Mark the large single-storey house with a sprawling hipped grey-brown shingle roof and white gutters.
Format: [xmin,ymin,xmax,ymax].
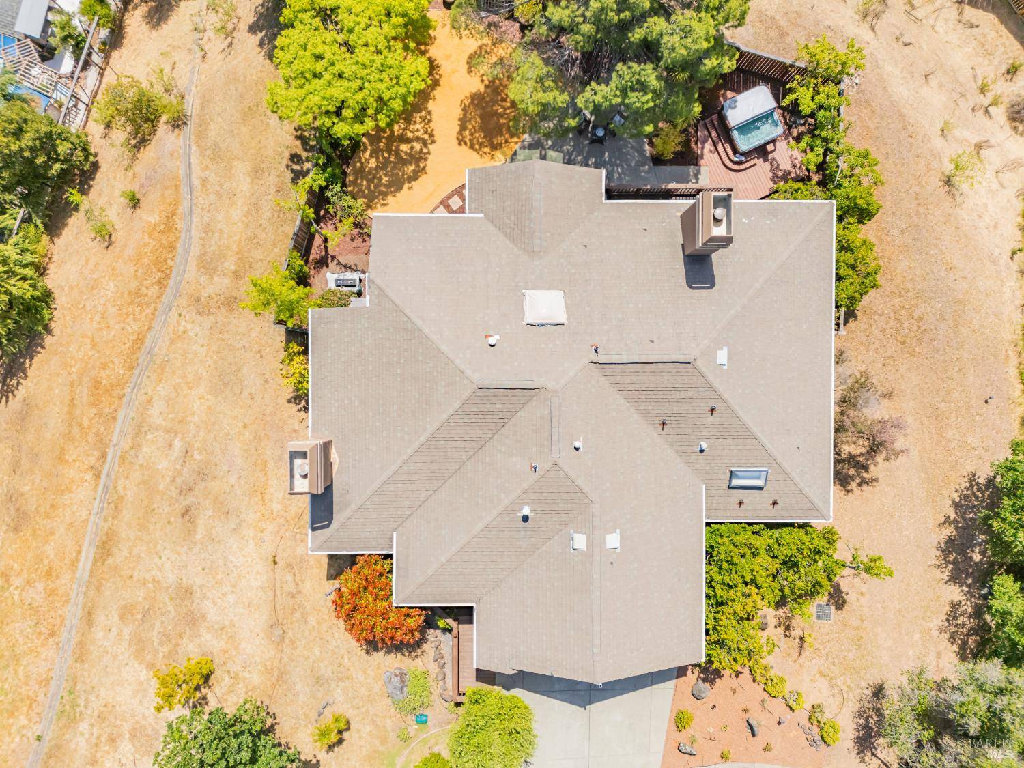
[289,160,837,688]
